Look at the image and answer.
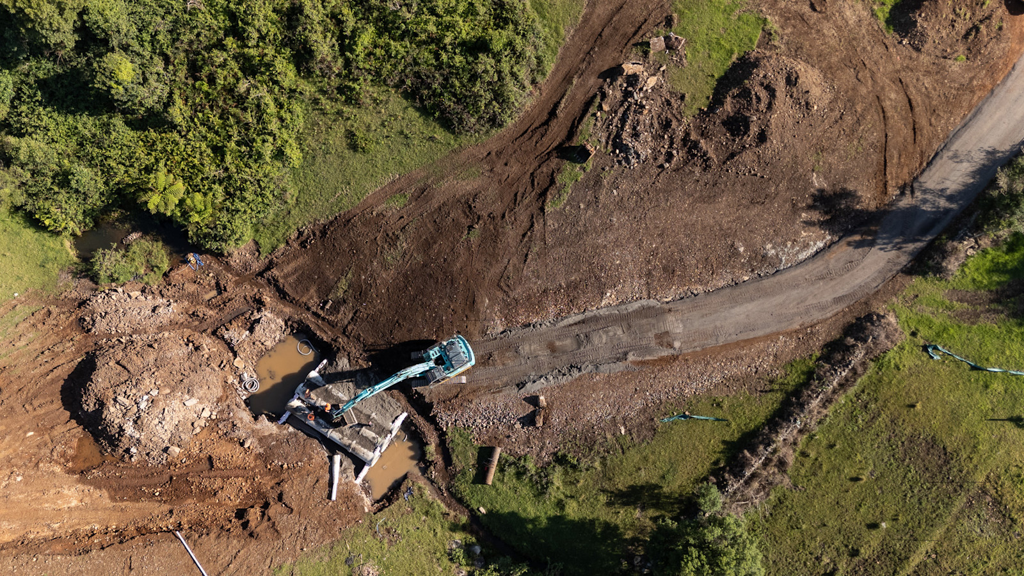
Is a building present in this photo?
No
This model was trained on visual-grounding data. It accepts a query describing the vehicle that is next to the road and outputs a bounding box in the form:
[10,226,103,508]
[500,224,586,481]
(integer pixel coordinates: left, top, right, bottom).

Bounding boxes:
[332,336,474,428]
